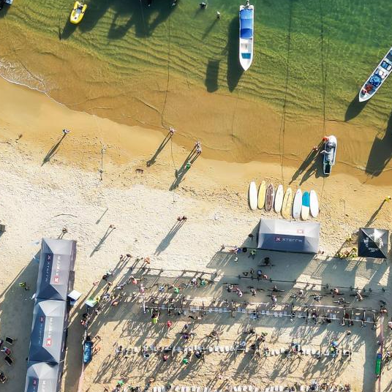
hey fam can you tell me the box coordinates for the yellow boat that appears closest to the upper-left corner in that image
[70,0,87,25]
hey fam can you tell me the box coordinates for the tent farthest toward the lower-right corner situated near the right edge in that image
[355,225,390,258]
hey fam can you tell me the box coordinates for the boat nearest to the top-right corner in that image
[360,47,392,102]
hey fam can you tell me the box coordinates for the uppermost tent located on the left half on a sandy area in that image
[35,237,80,301]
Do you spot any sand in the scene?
Yes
